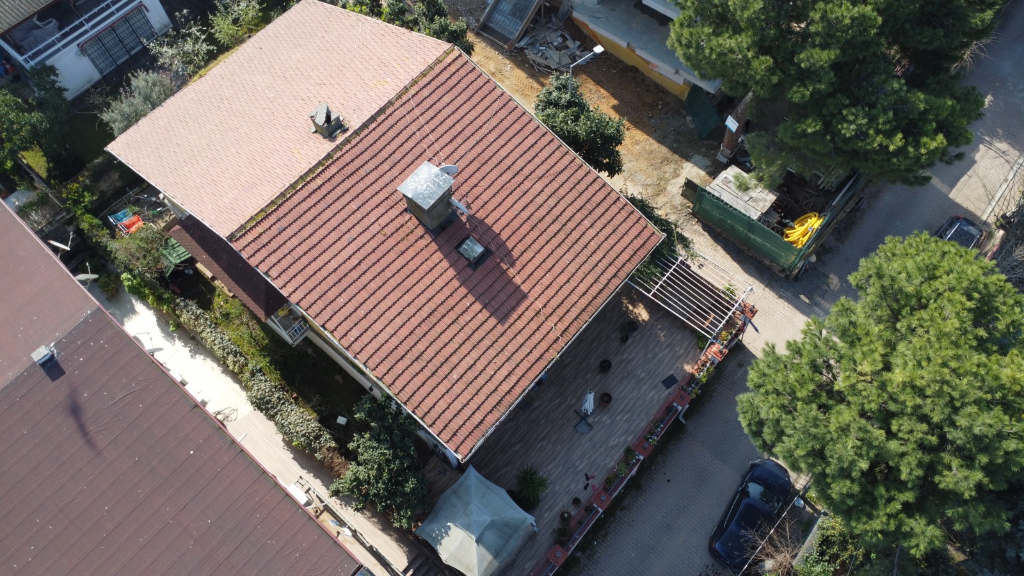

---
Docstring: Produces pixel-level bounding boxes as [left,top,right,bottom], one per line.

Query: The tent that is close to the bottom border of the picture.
[412,465,536,576]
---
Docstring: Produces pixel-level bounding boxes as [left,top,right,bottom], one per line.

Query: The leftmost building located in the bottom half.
[0,201,369,576]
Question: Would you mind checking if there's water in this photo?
No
